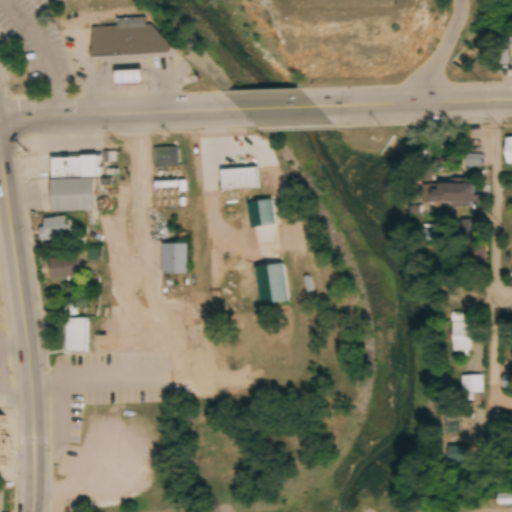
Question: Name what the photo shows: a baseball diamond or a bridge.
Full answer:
I can see a bridge in this picture.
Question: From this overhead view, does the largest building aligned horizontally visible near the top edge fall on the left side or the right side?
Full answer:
The largest building aligned horizontally visible near the top edge sits on the left side.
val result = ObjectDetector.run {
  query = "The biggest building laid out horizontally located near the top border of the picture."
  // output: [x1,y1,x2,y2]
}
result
[91,23,172,56]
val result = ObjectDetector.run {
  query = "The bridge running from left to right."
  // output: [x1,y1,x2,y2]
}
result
[222,87,333,128]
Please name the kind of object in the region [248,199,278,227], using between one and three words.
barn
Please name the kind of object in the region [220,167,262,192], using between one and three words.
building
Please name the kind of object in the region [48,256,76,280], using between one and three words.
house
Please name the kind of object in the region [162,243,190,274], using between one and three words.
barn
